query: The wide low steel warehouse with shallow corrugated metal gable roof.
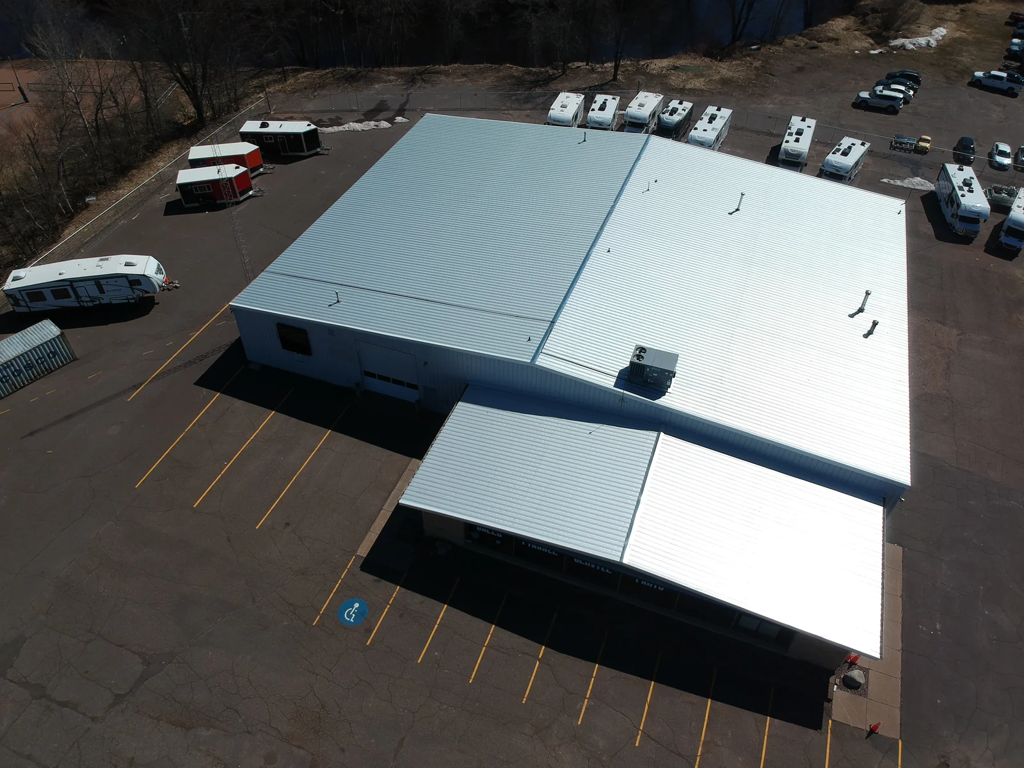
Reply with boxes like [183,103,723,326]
[228,113,916,522]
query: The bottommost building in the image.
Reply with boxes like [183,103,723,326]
[396,381,885,669]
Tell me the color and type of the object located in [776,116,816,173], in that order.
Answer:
white camper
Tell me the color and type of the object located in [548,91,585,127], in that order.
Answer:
white camper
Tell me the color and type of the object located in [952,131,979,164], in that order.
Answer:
black car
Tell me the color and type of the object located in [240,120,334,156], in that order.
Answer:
black trailer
